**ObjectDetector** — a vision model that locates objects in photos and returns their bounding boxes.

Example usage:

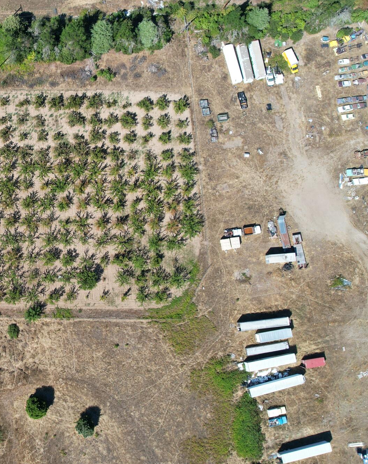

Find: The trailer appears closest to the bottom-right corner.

[274,439,332,464]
